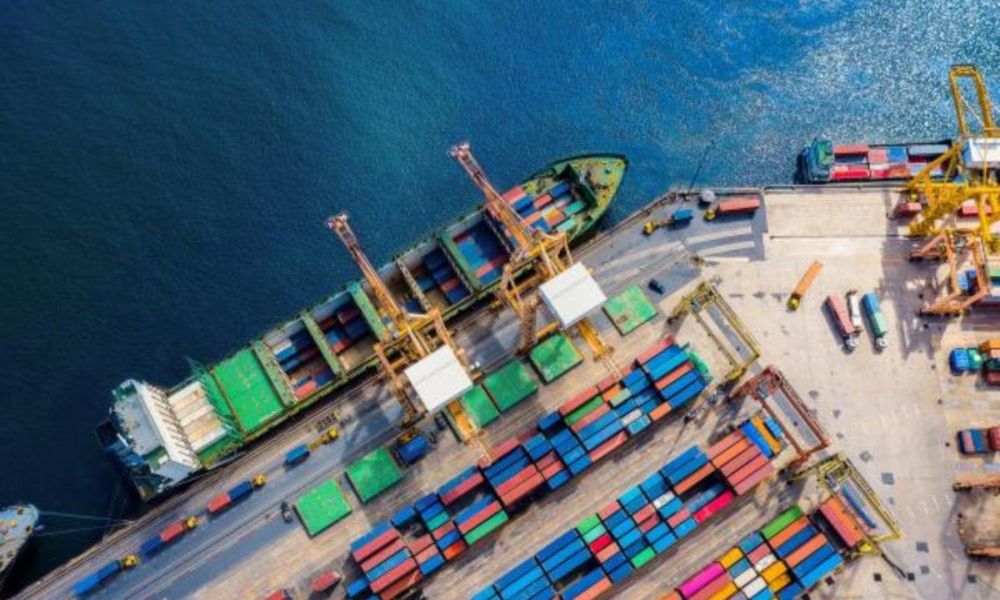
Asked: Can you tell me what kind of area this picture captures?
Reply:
port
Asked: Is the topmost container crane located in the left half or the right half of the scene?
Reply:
right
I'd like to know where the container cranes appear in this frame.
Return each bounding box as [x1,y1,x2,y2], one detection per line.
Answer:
[720,367,840,477]
[893,64,1000,243]
[660,280,769,390]
[446,133,622,370]
[903,235,996,318]
[319,206,489,460]
[782,453,918,566]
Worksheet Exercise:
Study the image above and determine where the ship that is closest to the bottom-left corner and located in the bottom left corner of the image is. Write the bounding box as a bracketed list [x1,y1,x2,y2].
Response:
[0,509,47,579]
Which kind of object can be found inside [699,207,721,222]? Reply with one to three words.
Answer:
vehicle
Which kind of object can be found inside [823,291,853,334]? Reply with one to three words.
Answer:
shipping container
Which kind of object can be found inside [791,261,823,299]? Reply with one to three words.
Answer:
shipping container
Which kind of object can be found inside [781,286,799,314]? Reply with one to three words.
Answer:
vehicle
